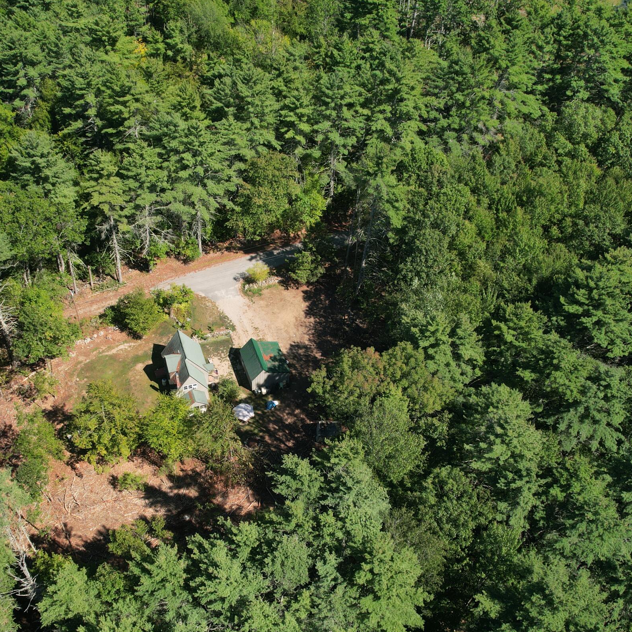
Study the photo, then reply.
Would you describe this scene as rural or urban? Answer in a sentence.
It looks rural.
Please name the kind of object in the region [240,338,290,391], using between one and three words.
building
